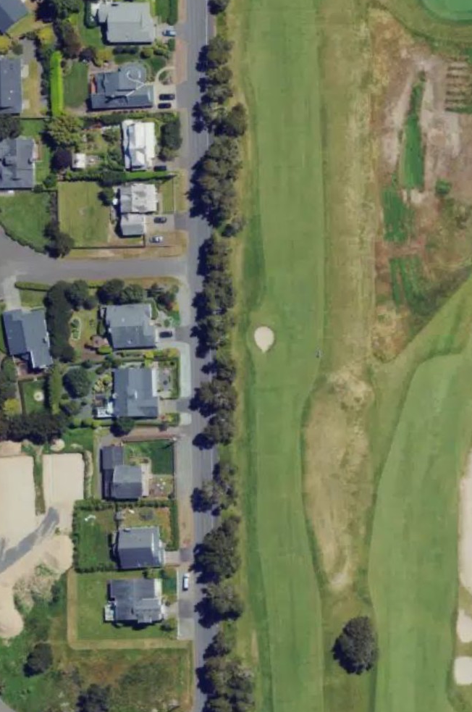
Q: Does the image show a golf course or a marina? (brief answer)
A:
golf course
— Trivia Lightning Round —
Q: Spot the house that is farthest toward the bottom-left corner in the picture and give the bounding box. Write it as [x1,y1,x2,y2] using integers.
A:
[110,580,163,624]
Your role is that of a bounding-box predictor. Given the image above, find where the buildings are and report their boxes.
[91,60,154,109]
[72,153,86,168]
[113,368,160,419]
[1,309,55,366]
[0,0,29,35]
[110,580,163,624]
[101,446,144,499]
[0,137,34,189]
[104,304,157,348]
[0,57,22,112]
[115,527,164,568]
[97,2,155,44]
[118,182,158,237]
[121,120,155,170]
